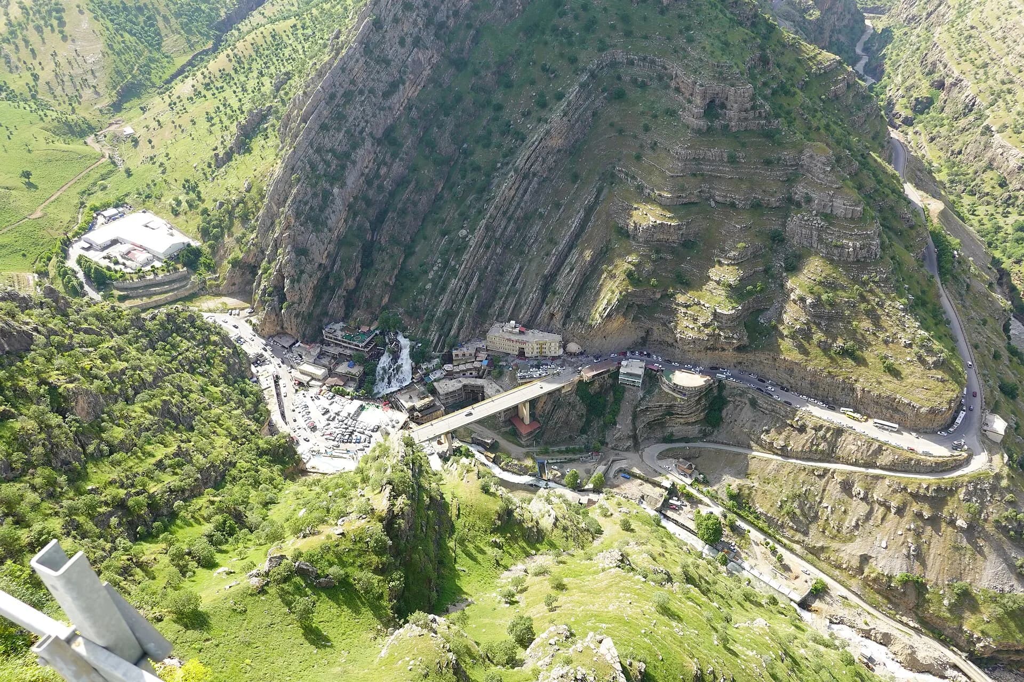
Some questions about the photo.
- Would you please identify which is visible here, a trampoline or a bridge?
bridge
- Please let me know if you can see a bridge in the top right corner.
No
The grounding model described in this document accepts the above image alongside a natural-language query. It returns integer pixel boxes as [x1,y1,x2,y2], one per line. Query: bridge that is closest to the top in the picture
[411,371,584,448]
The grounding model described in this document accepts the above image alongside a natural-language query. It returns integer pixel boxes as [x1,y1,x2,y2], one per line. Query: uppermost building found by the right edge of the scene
[979,413,1008,444]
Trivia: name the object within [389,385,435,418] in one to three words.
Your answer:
building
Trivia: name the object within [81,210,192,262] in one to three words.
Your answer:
building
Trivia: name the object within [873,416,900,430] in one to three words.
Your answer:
vehicle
